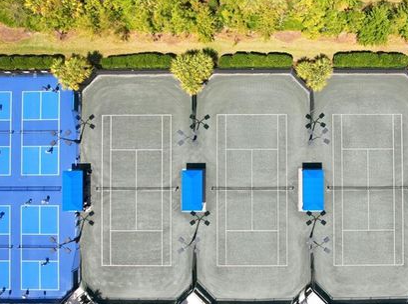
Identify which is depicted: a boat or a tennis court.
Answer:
tennis court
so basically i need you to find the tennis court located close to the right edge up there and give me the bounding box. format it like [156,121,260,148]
[311,74,408,304]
